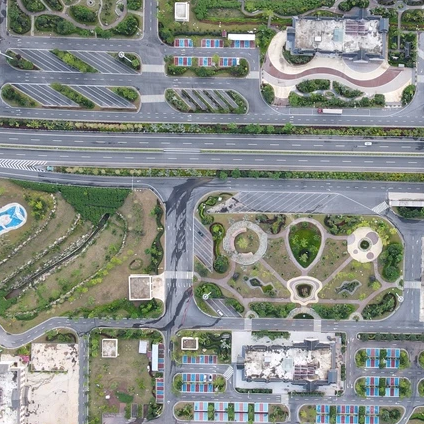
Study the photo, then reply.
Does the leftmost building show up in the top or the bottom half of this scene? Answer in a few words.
bottom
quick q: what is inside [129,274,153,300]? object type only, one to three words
house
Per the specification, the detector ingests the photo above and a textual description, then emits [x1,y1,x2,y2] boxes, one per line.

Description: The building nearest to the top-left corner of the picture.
[175,2,190,22]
